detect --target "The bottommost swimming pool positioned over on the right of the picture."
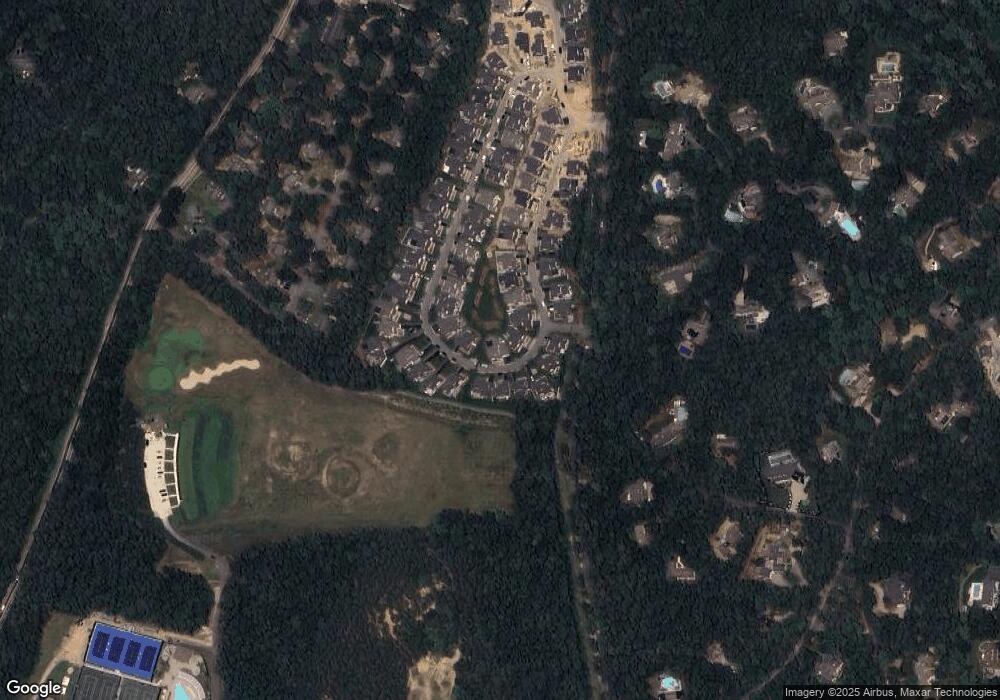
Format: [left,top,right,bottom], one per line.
[659,674,681,690]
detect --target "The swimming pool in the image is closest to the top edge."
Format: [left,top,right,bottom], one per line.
[877,52,900,73]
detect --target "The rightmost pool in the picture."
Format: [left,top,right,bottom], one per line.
[970,582,983,601]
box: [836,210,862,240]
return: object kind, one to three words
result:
swimming pool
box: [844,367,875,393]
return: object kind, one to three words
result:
house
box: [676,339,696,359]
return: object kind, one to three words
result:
swimming pool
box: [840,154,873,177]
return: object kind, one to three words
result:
house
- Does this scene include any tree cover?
Yes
